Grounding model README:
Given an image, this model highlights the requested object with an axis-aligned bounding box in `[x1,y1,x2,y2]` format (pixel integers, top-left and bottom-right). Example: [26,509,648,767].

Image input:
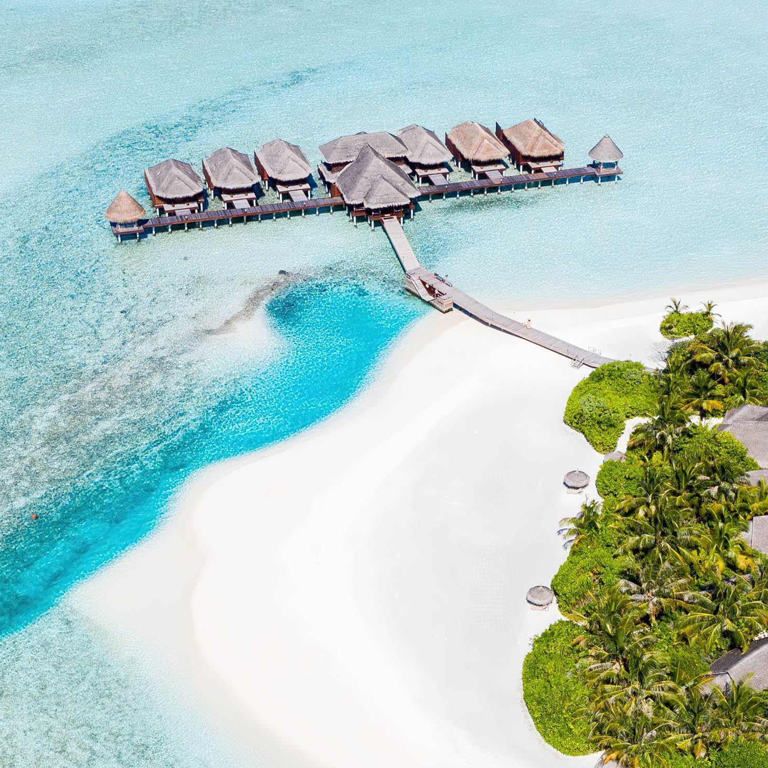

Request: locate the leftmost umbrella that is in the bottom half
[524,586,555,610]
